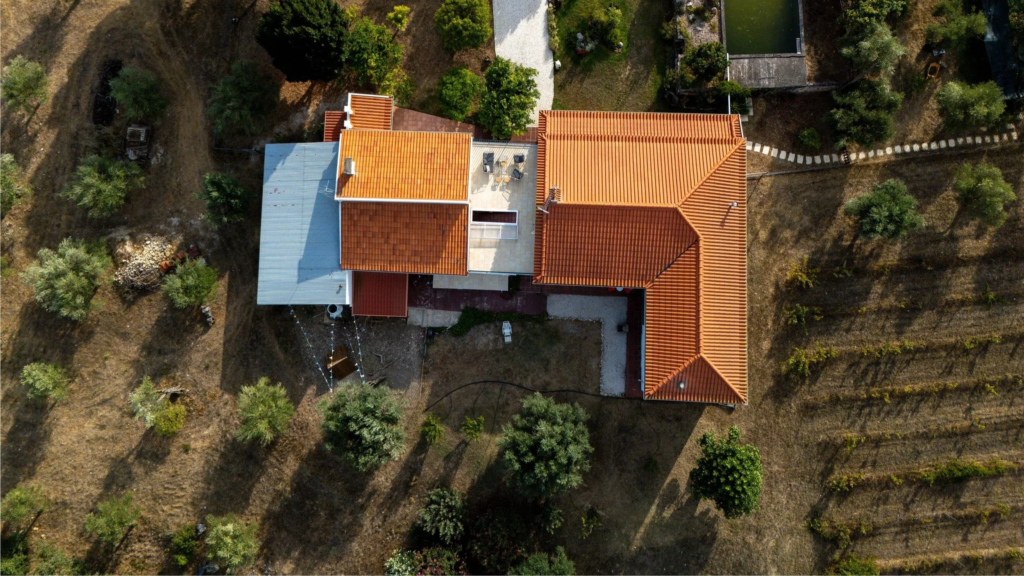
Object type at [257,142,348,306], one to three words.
shed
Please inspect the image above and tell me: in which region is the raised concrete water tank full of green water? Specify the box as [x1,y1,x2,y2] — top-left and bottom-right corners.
[718,0,805,61]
